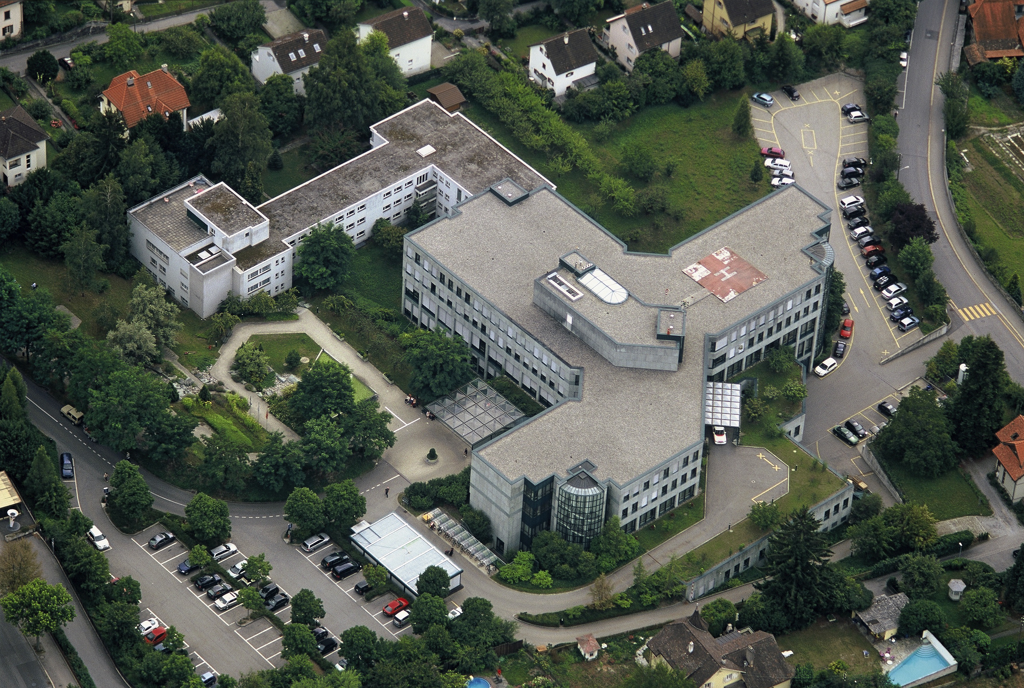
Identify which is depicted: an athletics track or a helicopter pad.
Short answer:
helicopter pad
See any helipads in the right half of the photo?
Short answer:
Yes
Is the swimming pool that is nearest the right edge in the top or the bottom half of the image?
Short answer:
bottom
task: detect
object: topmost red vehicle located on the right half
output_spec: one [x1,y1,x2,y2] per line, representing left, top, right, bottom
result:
[759,147,786,159]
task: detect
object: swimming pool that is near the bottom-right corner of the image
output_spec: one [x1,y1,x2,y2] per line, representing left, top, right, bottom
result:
[886,628,959,688]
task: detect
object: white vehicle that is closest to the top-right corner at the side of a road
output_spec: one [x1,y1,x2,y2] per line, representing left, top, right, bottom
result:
[898,50,910,68]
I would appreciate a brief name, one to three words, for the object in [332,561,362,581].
car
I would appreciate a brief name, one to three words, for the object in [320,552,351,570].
car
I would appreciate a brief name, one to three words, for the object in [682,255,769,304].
helipad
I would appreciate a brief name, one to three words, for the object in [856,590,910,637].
building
